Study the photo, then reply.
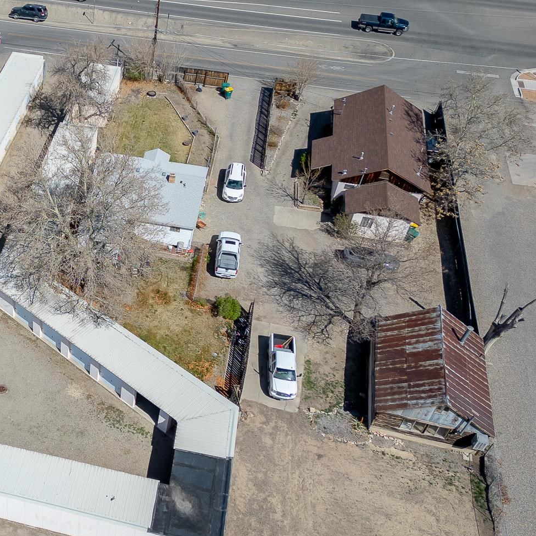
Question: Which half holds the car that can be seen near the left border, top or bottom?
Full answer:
The top half of the photo is where the car that can be seen near the left border is.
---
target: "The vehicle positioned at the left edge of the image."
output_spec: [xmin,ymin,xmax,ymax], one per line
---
[8,0,51,22]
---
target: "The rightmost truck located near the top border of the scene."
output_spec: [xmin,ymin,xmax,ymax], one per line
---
[356,12,411,36]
